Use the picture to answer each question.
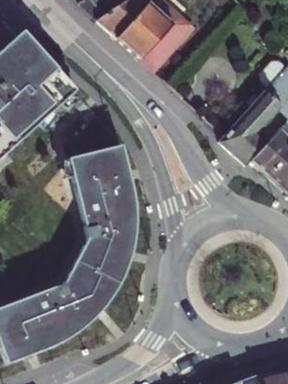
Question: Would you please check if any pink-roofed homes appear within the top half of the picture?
Yes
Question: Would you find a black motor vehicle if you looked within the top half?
No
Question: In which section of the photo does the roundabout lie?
bottom right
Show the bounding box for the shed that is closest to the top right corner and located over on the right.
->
[262,60,284,82]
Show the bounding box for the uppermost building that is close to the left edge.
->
[0,29,78,138]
